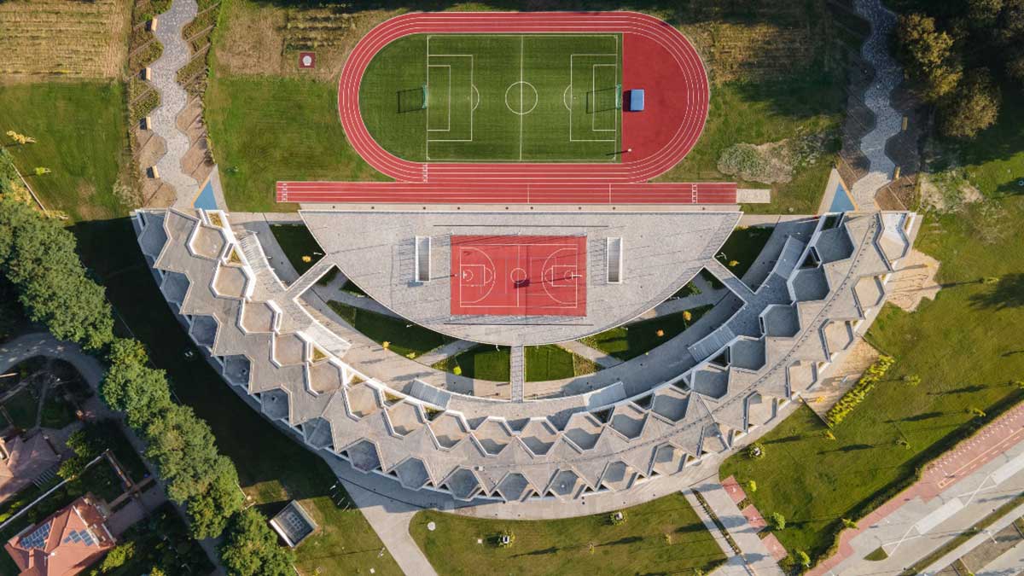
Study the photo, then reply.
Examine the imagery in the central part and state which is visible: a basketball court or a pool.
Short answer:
basketball court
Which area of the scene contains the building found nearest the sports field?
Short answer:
center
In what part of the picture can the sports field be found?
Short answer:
top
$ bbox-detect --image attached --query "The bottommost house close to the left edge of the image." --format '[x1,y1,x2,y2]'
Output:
[2,485,132,576]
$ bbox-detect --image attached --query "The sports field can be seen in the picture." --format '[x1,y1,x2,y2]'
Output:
[359,33,622,162]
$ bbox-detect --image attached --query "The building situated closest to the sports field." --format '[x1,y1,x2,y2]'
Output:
[300,210,742,346]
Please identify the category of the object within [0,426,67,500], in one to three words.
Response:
house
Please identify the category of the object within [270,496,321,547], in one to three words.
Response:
building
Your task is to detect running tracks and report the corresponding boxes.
[277,12,737,204]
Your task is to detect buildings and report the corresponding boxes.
[136,208,913,501]
[270,496,321,547]
[0,426,67,500]
[300,210,742,346]
[2,485,132,576]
